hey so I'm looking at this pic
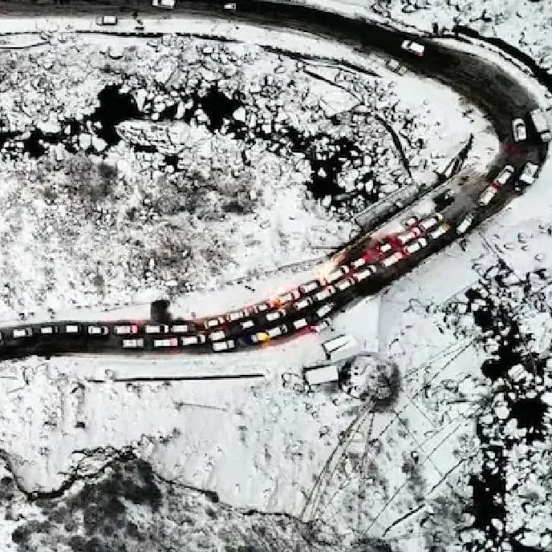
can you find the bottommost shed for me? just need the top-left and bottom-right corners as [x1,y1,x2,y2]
[303,365,339,384]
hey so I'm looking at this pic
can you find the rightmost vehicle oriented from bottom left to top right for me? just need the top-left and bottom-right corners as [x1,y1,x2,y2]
[513,166,537,191]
